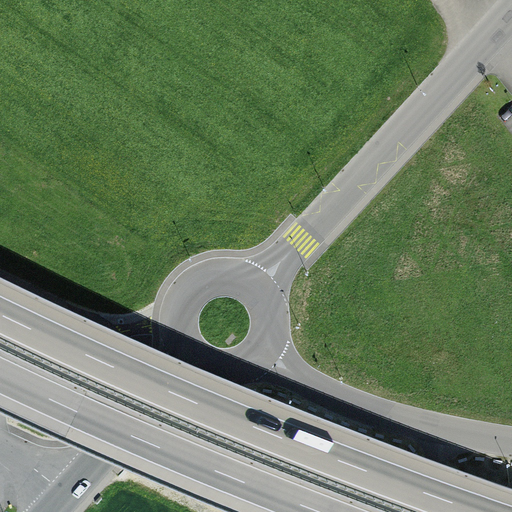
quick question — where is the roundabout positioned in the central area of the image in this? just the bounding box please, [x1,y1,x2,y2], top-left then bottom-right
[131,214,302,386]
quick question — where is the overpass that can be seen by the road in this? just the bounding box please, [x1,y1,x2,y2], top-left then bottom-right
[0,277,512,512]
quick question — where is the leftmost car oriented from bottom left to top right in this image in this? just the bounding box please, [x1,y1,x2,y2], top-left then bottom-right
[72,480,91,499]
